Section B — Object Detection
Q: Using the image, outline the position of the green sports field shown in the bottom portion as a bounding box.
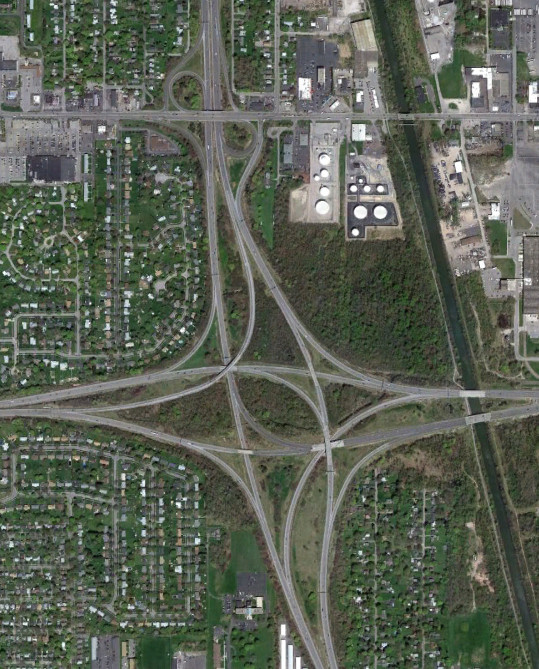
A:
[142,638,170,669]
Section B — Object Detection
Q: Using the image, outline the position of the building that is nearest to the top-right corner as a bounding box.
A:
[491,8,508,26]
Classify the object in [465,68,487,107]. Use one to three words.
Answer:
building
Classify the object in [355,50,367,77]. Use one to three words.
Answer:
building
